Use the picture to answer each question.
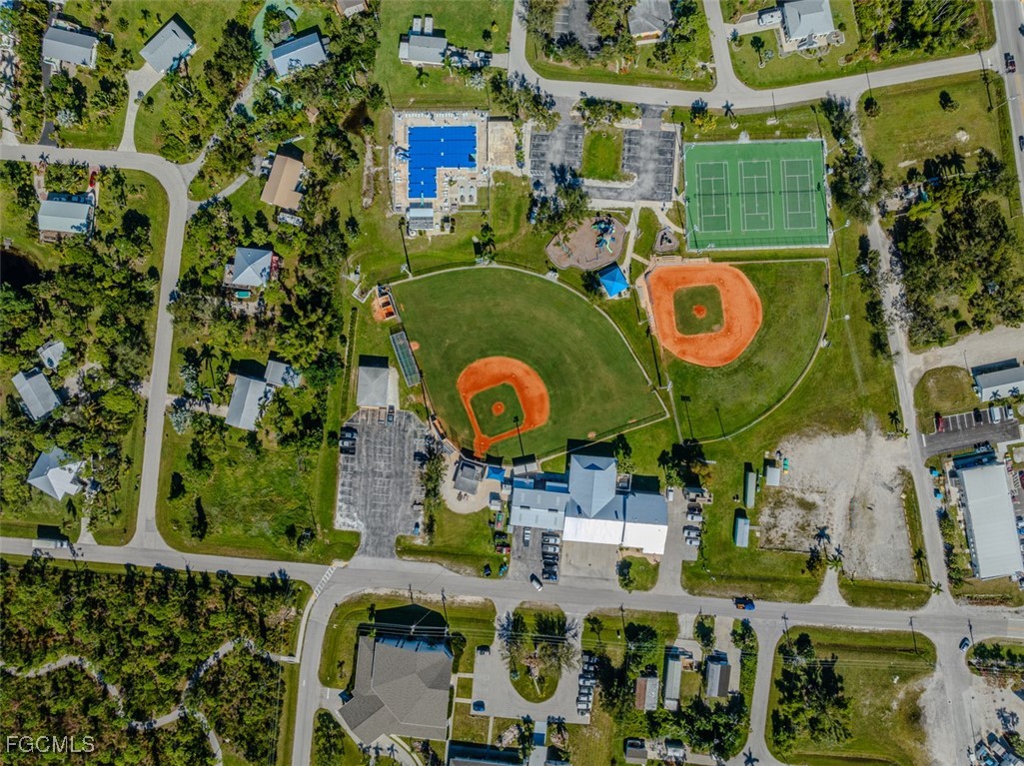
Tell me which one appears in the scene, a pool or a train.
pool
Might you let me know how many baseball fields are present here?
two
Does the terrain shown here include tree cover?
Yes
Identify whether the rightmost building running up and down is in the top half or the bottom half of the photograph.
bottom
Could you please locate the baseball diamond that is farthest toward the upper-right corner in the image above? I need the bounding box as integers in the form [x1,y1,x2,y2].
[650,260,829,444]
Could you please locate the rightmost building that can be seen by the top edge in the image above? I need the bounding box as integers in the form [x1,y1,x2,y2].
[783,0,834,42]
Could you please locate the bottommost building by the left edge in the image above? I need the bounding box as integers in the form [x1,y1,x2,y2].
[28,448,91,501]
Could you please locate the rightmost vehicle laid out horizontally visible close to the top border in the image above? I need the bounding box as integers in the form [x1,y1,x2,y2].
[758,8,783,21]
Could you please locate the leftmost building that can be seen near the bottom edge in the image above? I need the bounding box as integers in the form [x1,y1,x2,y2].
[339,634,452,745]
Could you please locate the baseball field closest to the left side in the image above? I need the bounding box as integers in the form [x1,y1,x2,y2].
[391,267,665,463]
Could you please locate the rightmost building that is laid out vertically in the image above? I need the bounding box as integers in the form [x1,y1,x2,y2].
[955,463,1024,580]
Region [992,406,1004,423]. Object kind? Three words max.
vehicle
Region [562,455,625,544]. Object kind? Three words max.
building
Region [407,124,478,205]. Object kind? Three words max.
swimming pool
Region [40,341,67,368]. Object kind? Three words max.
house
